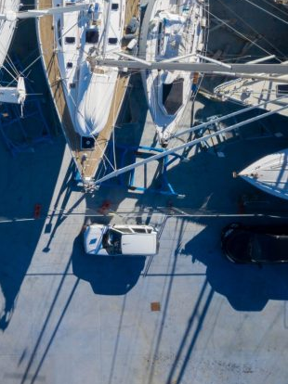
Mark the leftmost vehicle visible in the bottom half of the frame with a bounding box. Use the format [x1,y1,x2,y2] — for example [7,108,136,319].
[78,221,164,264]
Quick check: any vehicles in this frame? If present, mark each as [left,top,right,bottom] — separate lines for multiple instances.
[213,220,288,267]
[78,221,164,264]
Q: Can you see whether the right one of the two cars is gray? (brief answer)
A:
No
